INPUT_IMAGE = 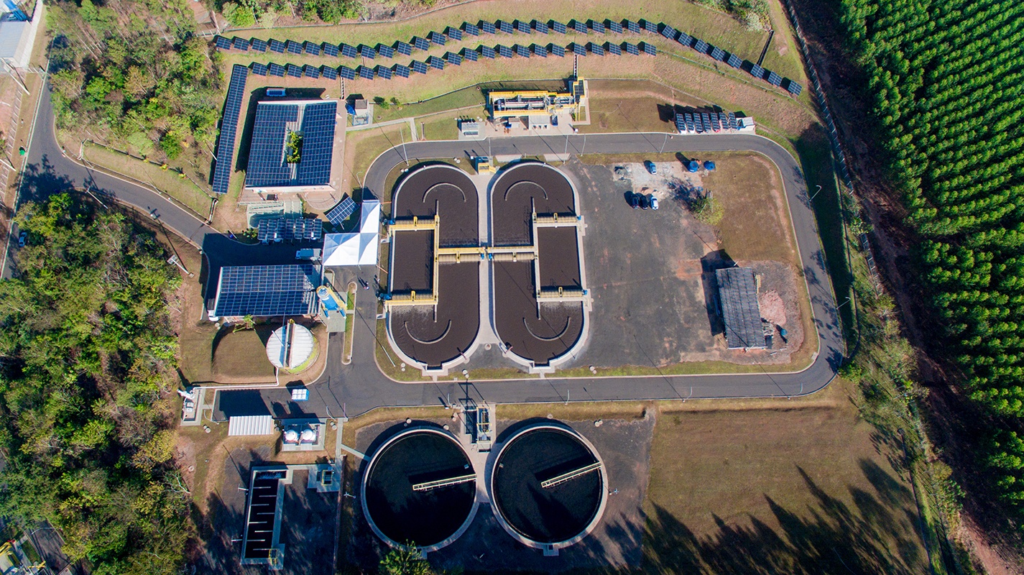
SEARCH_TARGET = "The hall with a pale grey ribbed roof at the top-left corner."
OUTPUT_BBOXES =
[0,21,36,69]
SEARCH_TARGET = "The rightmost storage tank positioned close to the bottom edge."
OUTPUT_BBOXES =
[486,421,612,560]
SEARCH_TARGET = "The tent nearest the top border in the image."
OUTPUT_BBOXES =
[360,201,382,238]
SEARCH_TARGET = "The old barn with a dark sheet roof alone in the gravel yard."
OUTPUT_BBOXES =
[713,267,766,351]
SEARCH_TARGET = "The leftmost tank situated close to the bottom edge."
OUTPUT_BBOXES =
[358,425,484,563]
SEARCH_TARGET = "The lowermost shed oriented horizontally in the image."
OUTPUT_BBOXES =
[229,415,279,437]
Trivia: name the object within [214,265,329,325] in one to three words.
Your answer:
building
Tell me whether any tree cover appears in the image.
Yes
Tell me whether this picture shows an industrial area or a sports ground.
industrial area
